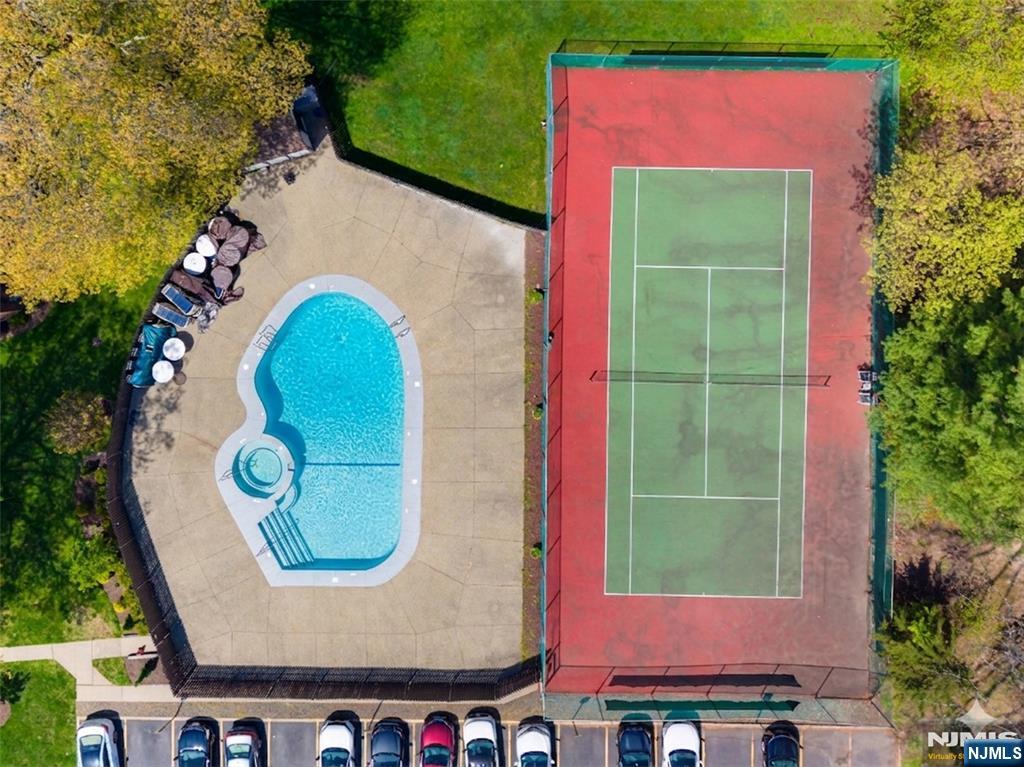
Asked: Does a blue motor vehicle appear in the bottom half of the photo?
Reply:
Yes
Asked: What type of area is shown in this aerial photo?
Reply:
sports ground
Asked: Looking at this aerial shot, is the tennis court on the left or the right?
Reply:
right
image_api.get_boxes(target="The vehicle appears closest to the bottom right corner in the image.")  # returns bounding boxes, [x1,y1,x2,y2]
[763,728,802,767]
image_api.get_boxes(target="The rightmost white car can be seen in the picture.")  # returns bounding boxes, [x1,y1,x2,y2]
[663,718,708,767]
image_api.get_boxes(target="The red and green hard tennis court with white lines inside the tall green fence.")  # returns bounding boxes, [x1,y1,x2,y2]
[547,68,876,697]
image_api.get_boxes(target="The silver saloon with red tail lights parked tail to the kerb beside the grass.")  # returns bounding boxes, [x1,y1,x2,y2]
[74,717,117,767]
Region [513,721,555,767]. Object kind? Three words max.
car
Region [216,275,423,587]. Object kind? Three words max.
swimming pool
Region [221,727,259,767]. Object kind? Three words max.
car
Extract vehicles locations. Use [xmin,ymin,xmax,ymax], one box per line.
[763,728,802,767]
[663,718,708,767]
[459,713,502,767]
[314,718,357,767]
[366,721,408,767]
[221,727,259,767]
[416,717,458,767]
[74,717,117,767]
[168,722,215,767]
[617,721,659,767]
[513,721,555,767]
